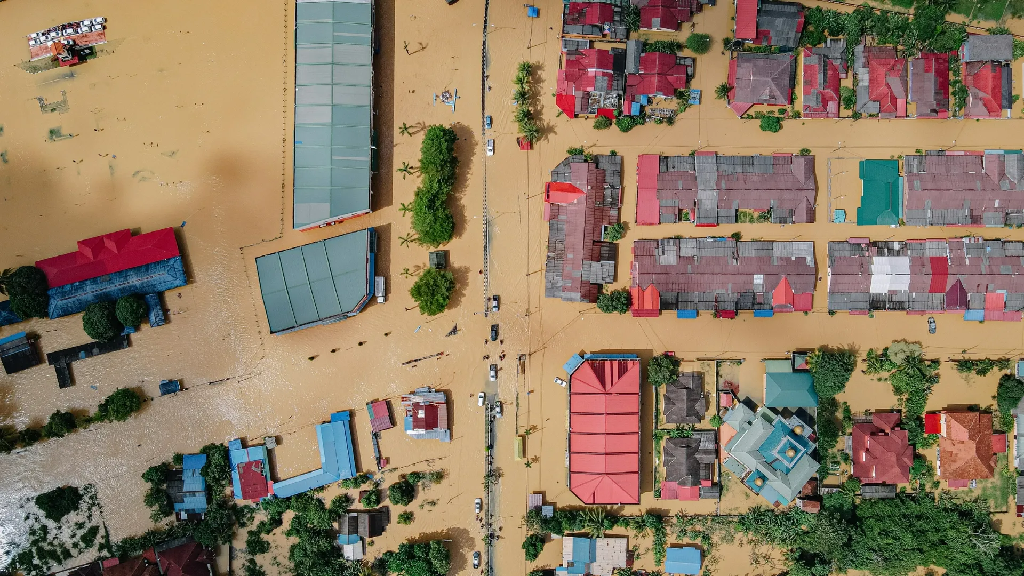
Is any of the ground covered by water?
Yes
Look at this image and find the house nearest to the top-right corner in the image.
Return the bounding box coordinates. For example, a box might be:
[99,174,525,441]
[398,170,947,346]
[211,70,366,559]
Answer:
[958,35,1012,118]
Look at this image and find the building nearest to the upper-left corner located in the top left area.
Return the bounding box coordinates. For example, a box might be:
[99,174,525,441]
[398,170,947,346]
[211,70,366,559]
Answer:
[39,38,80,67]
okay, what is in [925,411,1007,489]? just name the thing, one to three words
house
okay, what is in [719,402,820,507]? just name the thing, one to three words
building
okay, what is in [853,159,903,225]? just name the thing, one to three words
building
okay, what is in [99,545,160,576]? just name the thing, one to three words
house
